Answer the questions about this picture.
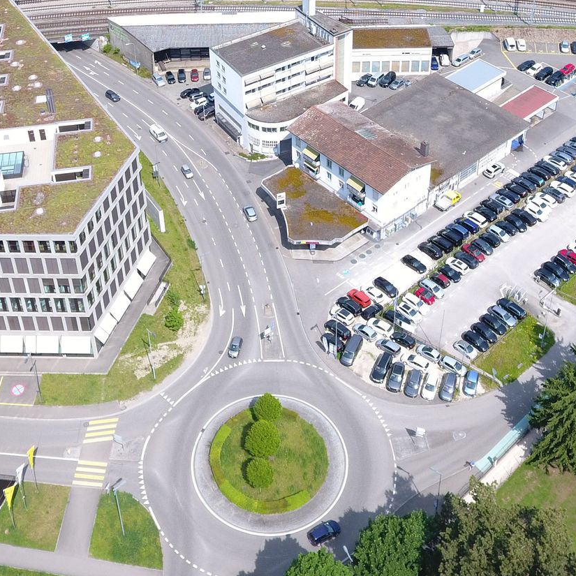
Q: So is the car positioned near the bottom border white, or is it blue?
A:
blue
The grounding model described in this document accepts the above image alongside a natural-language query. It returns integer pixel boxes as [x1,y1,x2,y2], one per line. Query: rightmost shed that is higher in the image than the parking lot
[500,85,559,126]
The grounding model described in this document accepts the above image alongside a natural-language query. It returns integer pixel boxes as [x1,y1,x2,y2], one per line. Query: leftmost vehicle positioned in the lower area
[228,336,243,359]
